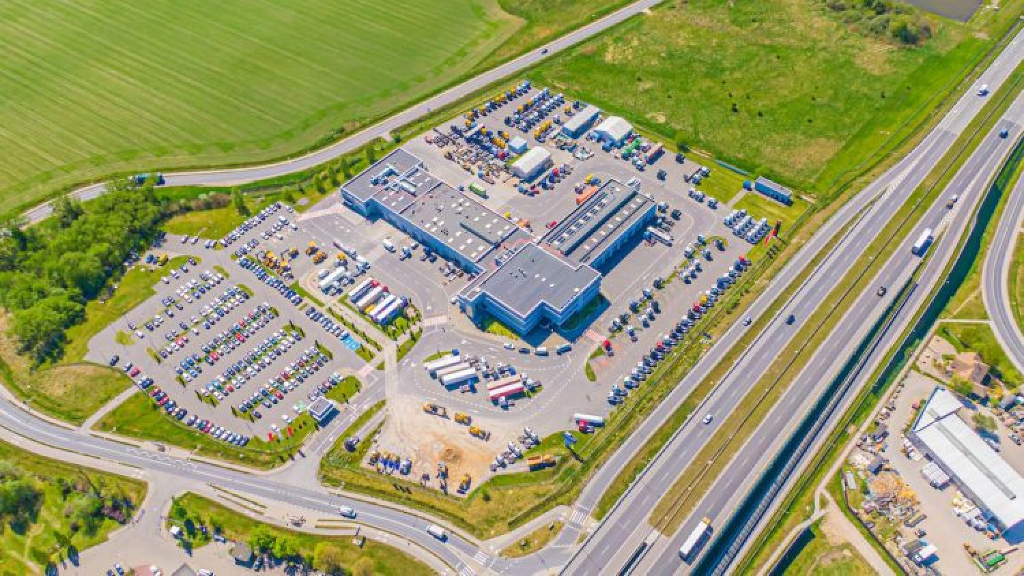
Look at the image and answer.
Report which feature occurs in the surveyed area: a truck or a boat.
truck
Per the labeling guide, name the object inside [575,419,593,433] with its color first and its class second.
red vehicle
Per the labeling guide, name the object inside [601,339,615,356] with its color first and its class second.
red vehicle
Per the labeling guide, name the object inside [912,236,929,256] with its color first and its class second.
white vehicle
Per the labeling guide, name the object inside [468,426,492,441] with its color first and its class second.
yellow work vehicle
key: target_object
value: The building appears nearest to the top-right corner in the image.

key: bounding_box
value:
[754,177,792,205]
